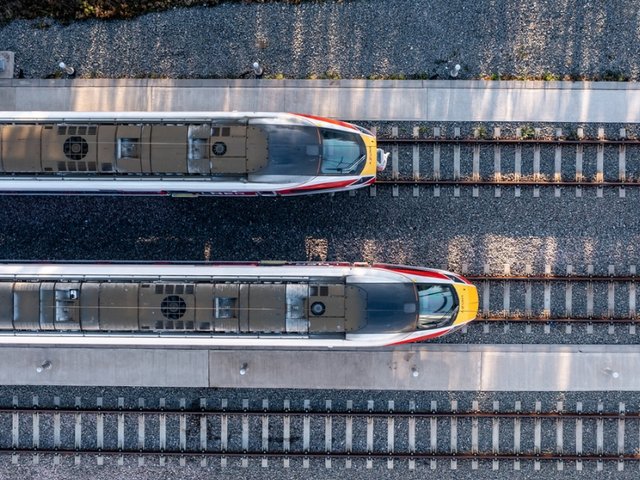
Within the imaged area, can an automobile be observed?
No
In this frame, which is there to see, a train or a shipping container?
train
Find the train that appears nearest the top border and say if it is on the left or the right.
left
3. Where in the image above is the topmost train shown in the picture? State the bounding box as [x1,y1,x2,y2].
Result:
[0,112,389,198]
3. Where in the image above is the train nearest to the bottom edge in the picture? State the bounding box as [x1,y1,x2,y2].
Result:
[0,259,478,346]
